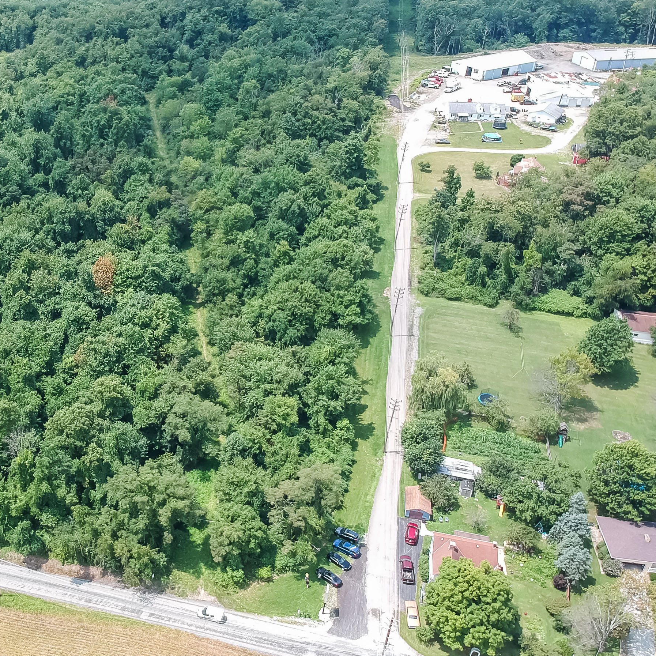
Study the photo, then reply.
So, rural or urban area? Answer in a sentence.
From above, the setting appears rural.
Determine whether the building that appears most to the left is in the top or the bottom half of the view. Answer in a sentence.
The bottom half of the photo is where the building that appears most to the left is.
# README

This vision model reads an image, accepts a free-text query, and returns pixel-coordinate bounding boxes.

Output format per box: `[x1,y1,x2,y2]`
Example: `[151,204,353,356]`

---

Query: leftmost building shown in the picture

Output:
[402,477,437,521]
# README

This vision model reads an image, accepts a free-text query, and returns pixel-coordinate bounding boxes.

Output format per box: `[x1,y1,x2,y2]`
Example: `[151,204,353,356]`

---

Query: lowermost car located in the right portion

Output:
[405,598,422,627]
